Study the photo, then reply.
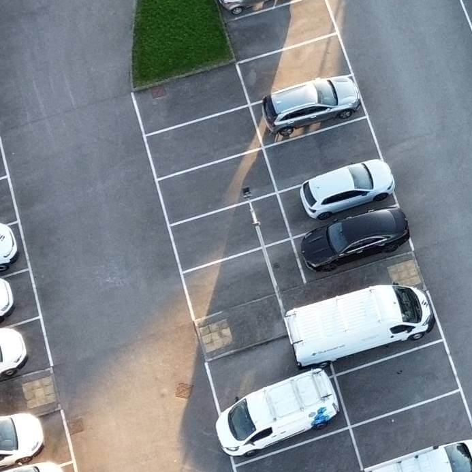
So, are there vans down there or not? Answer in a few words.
Yes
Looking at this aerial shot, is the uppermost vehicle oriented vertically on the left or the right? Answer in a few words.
left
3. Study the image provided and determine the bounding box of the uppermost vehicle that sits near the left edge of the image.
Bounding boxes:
[0,225,20,274]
